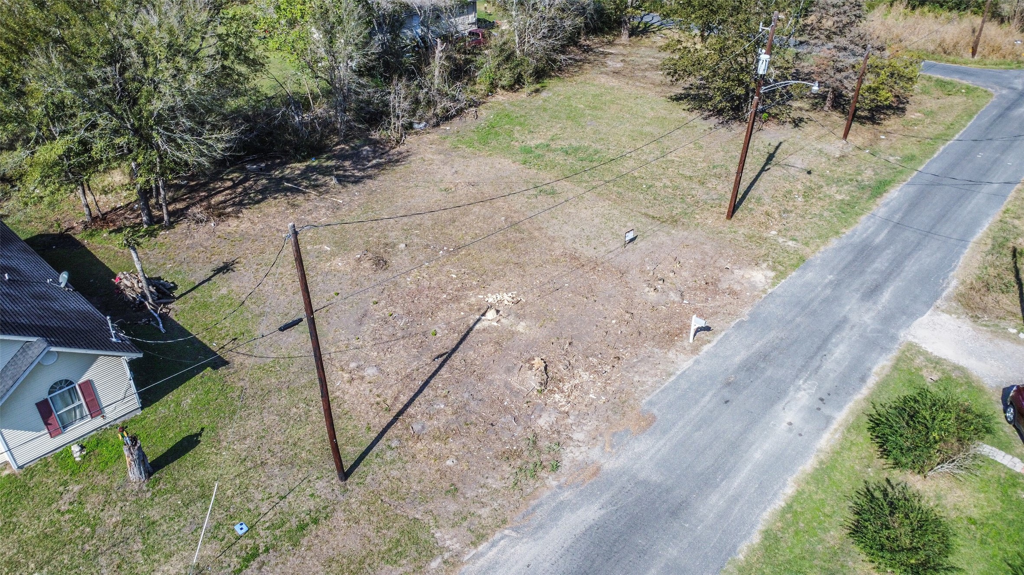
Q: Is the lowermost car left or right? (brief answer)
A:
right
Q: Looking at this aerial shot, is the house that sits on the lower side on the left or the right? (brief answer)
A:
left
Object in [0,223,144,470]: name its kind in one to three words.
house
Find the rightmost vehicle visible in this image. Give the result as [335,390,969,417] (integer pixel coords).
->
[1004,389,1024,427]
